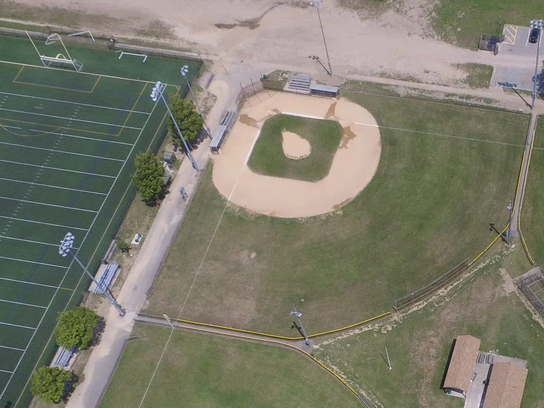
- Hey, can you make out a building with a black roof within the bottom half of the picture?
No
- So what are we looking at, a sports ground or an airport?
sports ground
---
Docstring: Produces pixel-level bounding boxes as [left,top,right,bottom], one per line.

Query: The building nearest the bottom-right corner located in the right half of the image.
[483,362,526,408]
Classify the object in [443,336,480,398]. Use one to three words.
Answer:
building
